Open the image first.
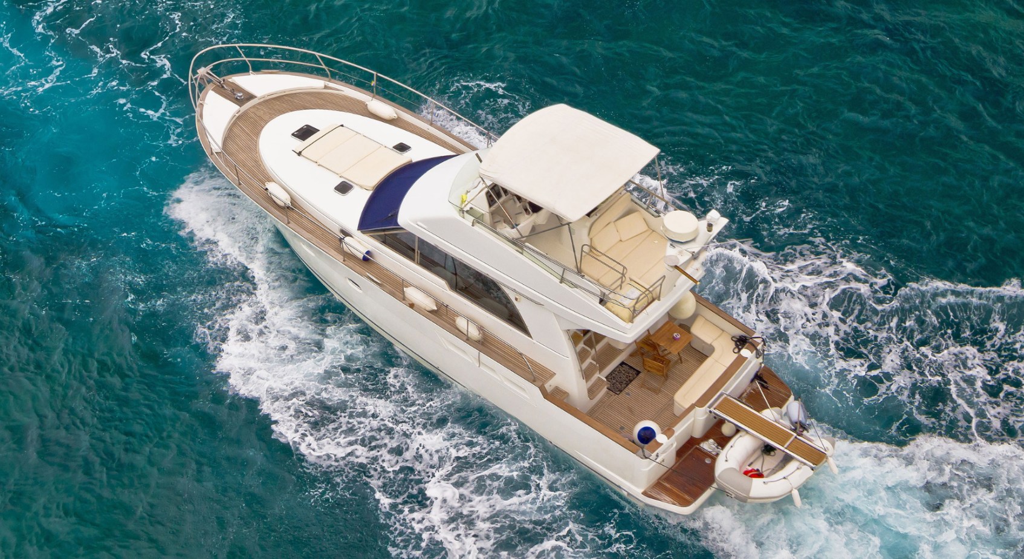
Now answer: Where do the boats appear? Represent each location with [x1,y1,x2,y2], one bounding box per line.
[710,406,844,507]
[184,42,827,522]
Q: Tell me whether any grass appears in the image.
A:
No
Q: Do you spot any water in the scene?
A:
Yes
